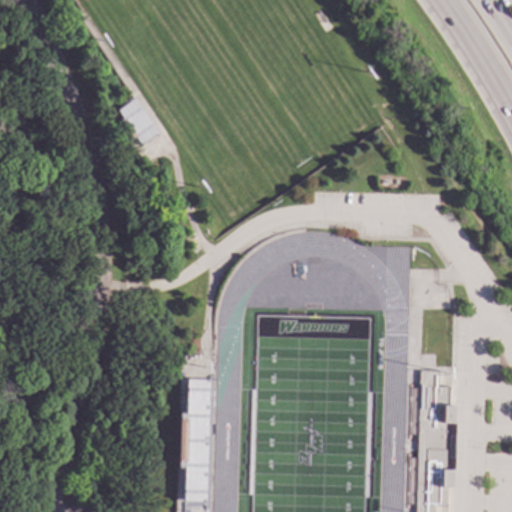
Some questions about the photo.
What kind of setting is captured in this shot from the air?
sports ground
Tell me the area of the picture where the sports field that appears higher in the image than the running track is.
top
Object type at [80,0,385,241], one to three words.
sports field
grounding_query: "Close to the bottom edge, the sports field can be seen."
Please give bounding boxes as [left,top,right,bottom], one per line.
[238,308,384,512]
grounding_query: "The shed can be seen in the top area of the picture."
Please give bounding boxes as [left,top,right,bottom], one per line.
[120,99,159,143]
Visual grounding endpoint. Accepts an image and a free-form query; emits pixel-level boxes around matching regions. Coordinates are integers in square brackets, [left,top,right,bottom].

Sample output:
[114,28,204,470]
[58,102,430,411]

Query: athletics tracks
[212,232,412,512]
